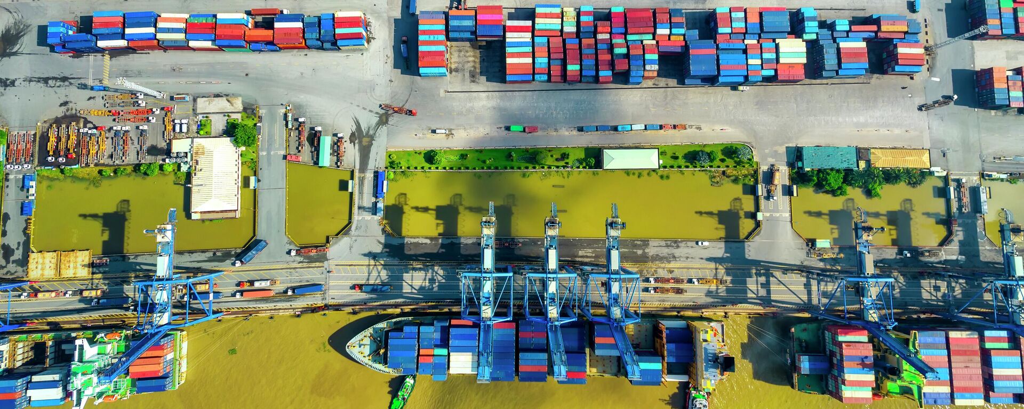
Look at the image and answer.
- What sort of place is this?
port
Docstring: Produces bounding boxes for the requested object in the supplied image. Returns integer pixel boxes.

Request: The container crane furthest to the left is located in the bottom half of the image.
[0,281,45,335]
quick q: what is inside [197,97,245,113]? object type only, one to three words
building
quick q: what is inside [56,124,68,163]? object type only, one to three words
vehicle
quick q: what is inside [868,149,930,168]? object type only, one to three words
house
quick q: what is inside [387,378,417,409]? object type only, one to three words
boat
